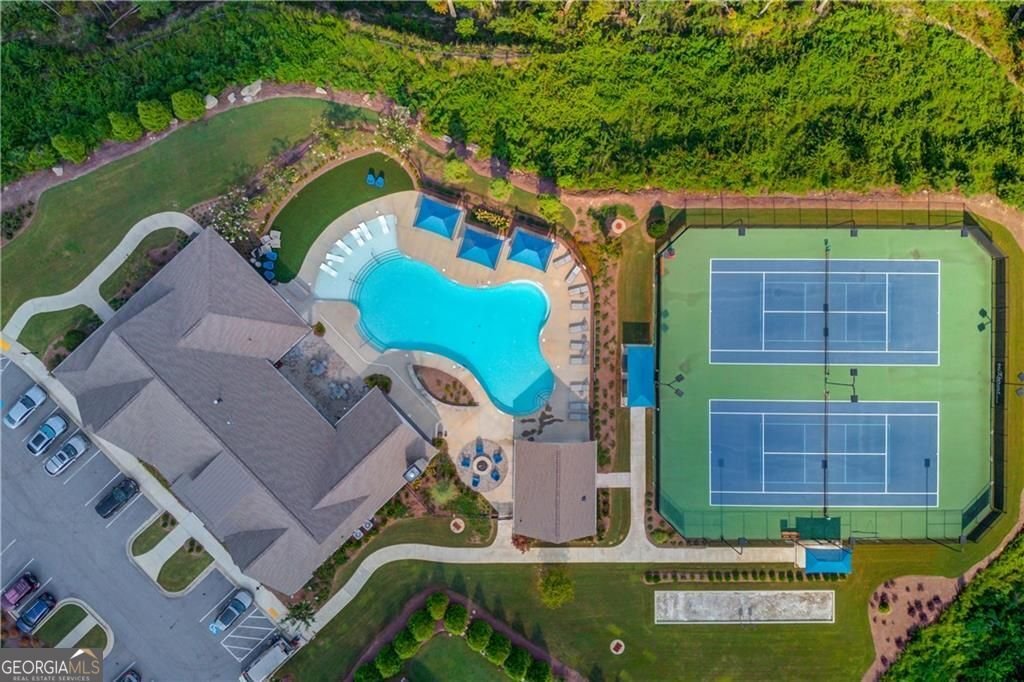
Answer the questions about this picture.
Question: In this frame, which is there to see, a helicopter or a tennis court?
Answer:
tennis court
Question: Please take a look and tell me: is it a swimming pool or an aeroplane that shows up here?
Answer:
swimming pool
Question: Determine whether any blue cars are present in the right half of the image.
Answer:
No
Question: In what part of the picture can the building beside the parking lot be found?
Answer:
left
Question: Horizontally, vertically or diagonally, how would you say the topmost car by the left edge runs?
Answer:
diagonally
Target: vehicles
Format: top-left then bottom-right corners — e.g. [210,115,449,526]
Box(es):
[234,631,301,682]
[96,474,141,519]
[0,567,43,613]
[45,432,90,476]
[210,588,254,632]
[26,411,71,455]
[4,384,50,427]
[16,589,60,635]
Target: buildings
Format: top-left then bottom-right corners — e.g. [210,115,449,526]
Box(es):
[52,227,438,595]
[513,440,597,544]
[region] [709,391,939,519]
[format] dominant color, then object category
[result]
blue tennis court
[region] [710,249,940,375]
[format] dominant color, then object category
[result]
blue tennis court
